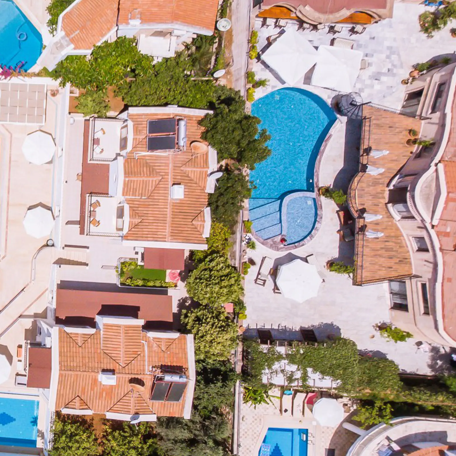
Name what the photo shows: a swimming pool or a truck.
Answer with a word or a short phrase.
swimming pool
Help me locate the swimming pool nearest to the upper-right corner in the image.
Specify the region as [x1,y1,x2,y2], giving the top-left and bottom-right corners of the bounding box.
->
[249,87,336,243]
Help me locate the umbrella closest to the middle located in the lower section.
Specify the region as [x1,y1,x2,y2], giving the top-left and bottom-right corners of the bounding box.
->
[275,258,320,303]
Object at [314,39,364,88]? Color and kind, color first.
white umbrella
